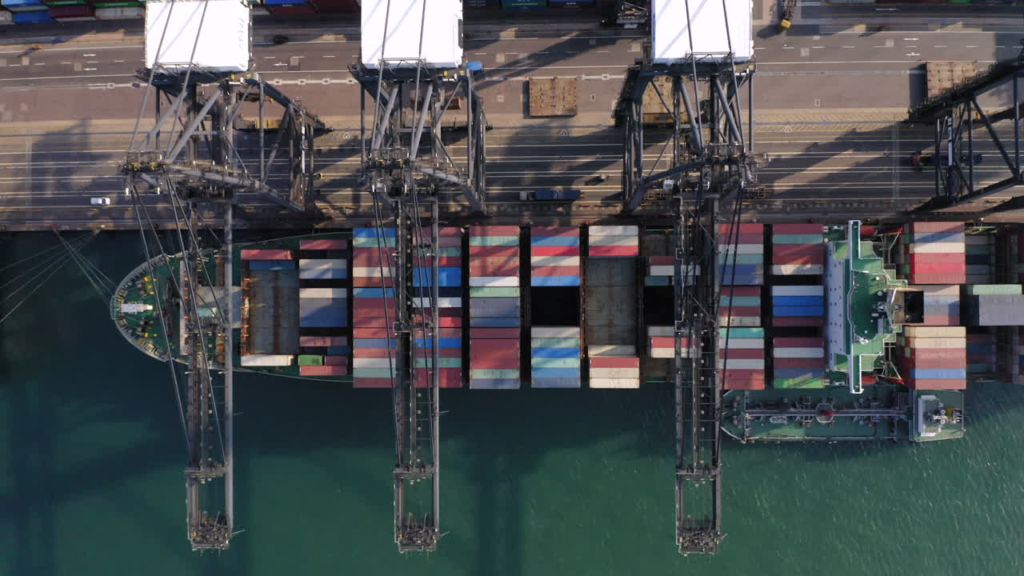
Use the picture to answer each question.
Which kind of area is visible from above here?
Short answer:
port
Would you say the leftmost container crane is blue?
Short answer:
No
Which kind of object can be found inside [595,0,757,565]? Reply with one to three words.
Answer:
container crane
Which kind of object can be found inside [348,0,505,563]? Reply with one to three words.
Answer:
container crane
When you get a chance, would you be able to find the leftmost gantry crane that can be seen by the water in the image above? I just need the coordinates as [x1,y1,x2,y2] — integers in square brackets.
[117,0,348,562]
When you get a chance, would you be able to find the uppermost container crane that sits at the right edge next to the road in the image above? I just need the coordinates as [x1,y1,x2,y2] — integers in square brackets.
[896,38,1024,216]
